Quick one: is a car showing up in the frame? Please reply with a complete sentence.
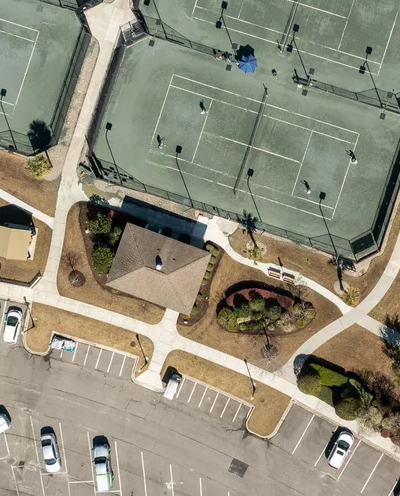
Yes, the frame does contain a car.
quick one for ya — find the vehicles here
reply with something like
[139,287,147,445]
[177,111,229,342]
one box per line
[53,335,67,350]
[92,441,113,492]
[4,306,24,343]
[41,431,62,471]
[165,371,182,396]
[0,414,11,434]
[327,429,353,470]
